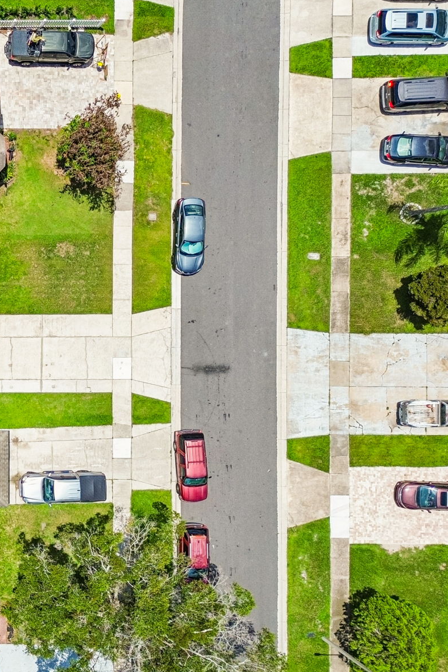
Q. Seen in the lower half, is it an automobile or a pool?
automobile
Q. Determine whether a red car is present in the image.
Yes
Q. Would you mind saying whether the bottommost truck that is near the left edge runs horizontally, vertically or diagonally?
horizontally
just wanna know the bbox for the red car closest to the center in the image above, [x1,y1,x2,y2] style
[172,428,213,501]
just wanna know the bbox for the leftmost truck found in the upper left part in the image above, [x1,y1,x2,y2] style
[1,27,92,68]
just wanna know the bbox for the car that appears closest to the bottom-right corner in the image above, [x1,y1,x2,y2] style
[397,479,448,515]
